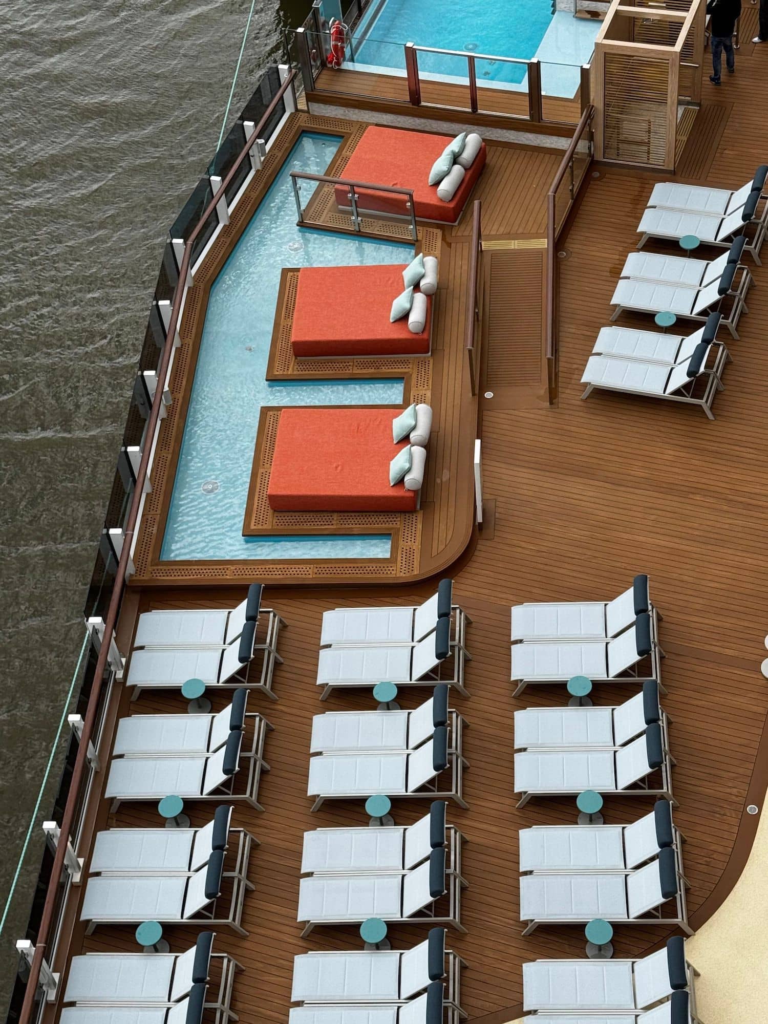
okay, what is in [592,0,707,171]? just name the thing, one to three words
building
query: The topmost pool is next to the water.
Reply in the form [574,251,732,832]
[344,0,604,99]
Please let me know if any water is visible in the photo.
Yes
